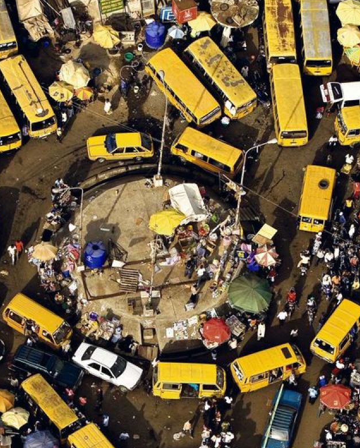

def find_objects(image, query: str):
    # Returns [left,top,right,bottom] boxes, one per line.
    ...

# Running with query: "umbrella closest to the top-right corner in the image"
[335,0,360,26]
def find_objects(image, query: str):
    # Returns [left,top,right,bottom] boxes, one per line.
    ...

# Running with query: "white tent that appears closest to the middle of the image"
[170,182,209,218]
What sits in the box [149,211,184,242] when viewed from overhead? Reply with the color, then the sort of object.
yellow umbrella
